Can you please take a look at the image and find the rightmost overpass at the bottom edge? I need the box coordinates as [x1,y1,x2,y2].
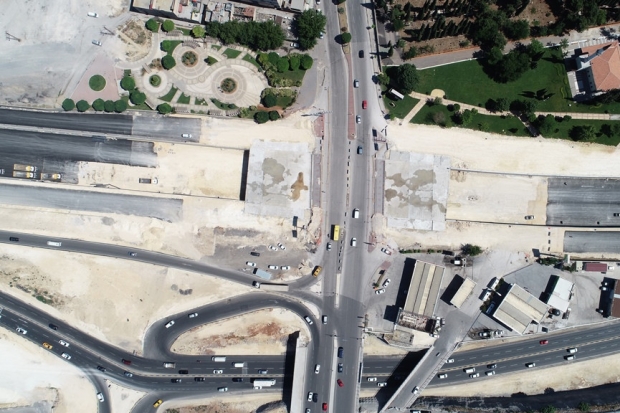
[378,332,464,413]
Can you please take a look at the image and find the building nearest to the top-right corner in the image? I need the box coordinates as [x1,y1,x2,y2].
[572,41,620,98]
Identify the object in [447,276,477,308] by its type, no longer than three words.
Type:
shed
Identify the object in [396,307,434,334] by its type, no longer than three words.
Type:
building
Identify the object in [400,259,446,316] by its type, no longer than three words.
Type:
building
